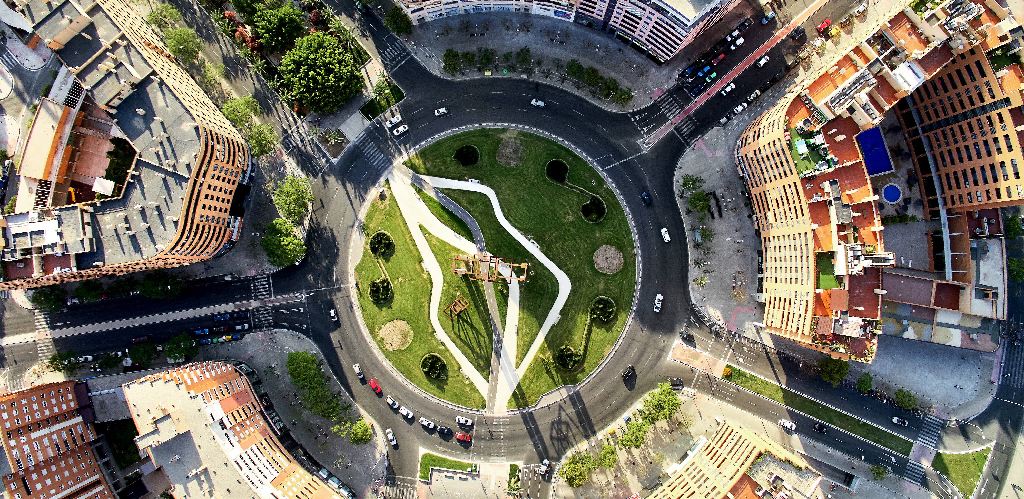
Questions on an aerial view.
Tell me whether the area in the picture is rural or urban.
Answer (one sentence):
It looks urban.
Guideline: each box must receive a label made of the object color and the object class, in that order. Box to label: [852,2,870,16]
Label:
white vehicle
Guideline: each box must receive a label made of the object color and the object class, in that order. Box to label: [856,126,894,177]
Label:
blue swimming pool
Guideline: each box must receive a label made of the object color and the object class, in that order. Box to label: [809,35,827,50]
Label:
white car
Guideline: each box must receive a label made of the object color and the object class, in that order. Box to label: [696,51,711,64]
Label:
black vehicle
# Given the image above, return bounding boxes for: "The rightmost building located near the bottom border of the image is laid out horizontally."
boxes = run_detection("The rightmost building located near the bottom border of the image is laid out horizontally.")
[665,422,824,499]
